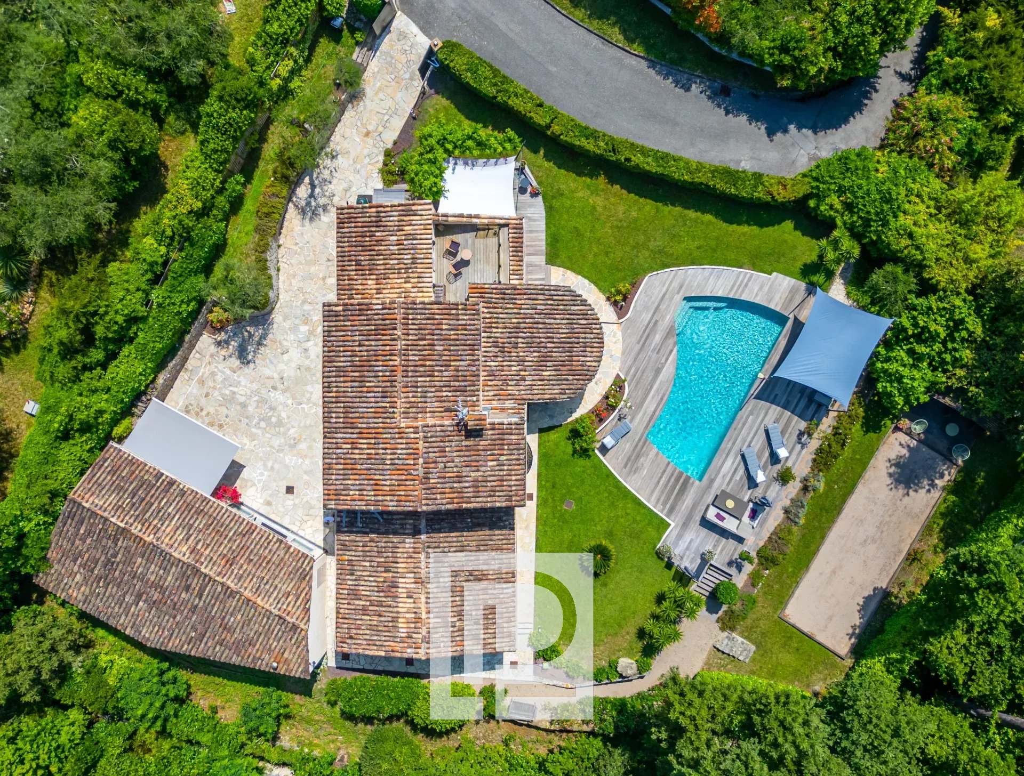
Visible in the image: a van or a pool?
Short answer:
pool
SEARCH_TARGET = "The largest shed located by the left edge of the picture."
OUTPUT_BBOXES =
[35,442,334,680]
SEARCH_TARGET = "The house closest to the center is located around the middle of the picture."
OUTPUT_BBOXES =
[321,200,605,662]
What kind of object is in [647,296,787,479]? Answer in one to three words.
swimming pool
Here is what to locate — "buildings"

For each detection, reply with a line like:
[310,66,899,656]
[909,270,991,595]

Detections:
[35,442,334,680]
[321,200,605,662]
